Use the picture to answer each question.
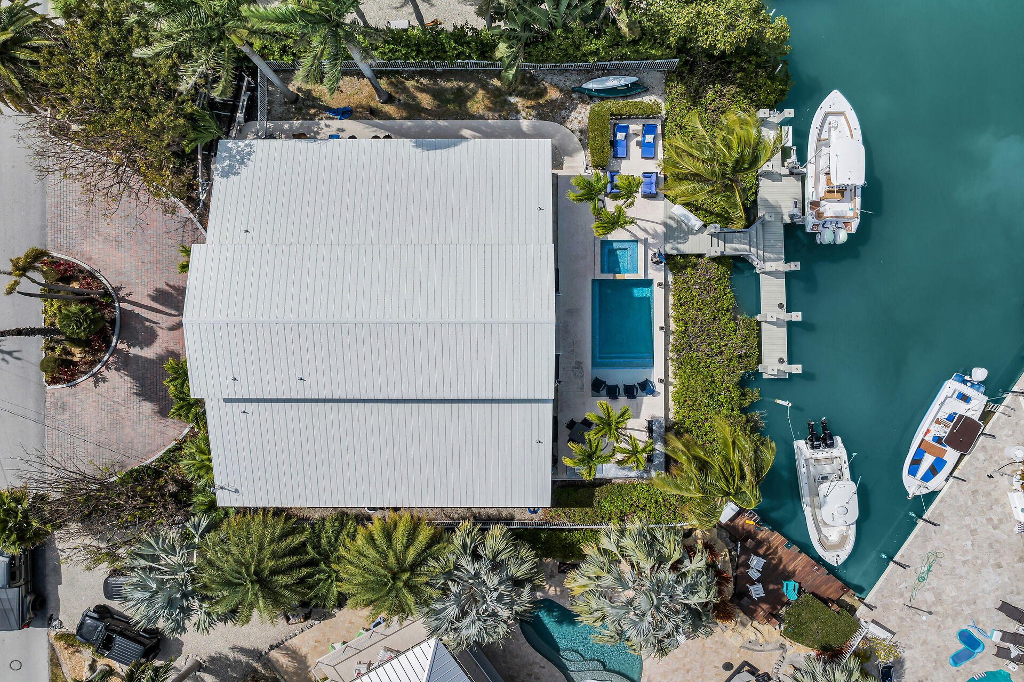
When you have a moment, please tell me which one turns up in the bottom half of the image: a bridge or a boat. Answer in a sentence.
Visible in the bottom half of the image is a boat.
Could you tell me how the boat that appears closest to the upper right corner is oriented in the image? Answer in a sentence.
In this picture, the boat that appears closest to the upper right corner lies from top to bottom.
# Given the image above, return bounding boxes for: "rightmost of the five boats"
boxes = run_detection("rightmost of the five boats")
[903,367,989,500]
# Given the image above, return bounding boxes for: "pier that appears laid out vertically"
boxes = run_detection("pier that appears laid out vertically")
[753,109,801,378]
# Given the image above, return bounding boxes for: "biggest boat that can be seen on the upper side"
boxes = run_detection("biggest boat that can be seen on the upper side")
[803,89,873,245]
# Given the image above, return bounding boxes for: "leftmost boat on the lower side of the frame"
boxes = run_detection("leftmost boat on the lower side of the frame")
[795,416,860,571]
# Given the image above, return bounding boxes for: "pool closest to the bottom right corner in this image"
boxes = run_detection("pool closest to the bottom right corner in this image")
[520,599,642,682]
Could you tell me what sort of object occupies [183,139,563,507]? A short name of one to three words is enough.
house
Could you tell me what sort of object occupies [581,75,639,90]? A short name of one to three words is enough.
boat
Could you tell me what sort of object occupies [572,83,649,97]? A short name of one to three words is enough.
boat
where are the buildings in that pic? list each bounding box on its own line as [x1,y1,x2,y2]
[183,139,563,507]
[310,596,492,682]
